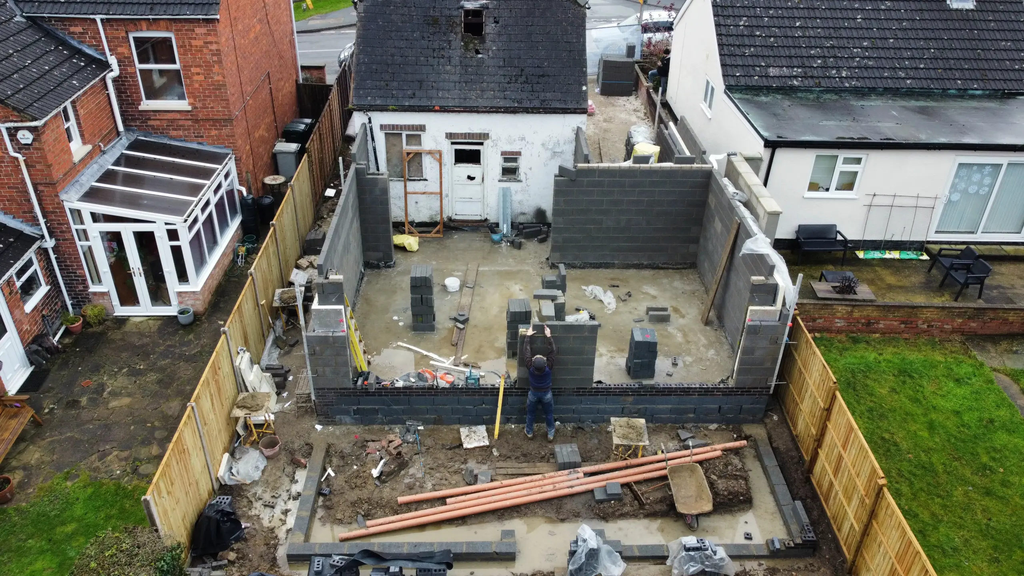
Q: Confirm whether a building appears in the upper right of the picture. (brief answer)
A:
Yes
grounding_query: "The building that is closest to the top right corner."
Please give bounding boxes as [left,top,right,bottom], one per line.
[669,0,1024,244]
